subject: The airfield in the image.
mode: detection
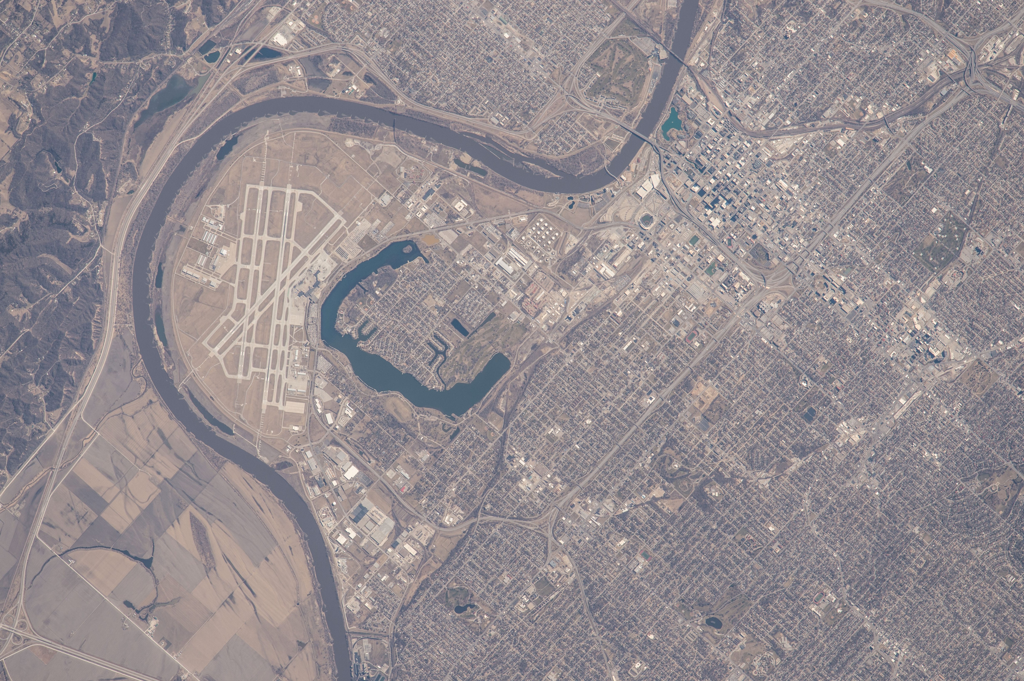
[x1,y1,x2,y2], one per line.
[173,130,392,444]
